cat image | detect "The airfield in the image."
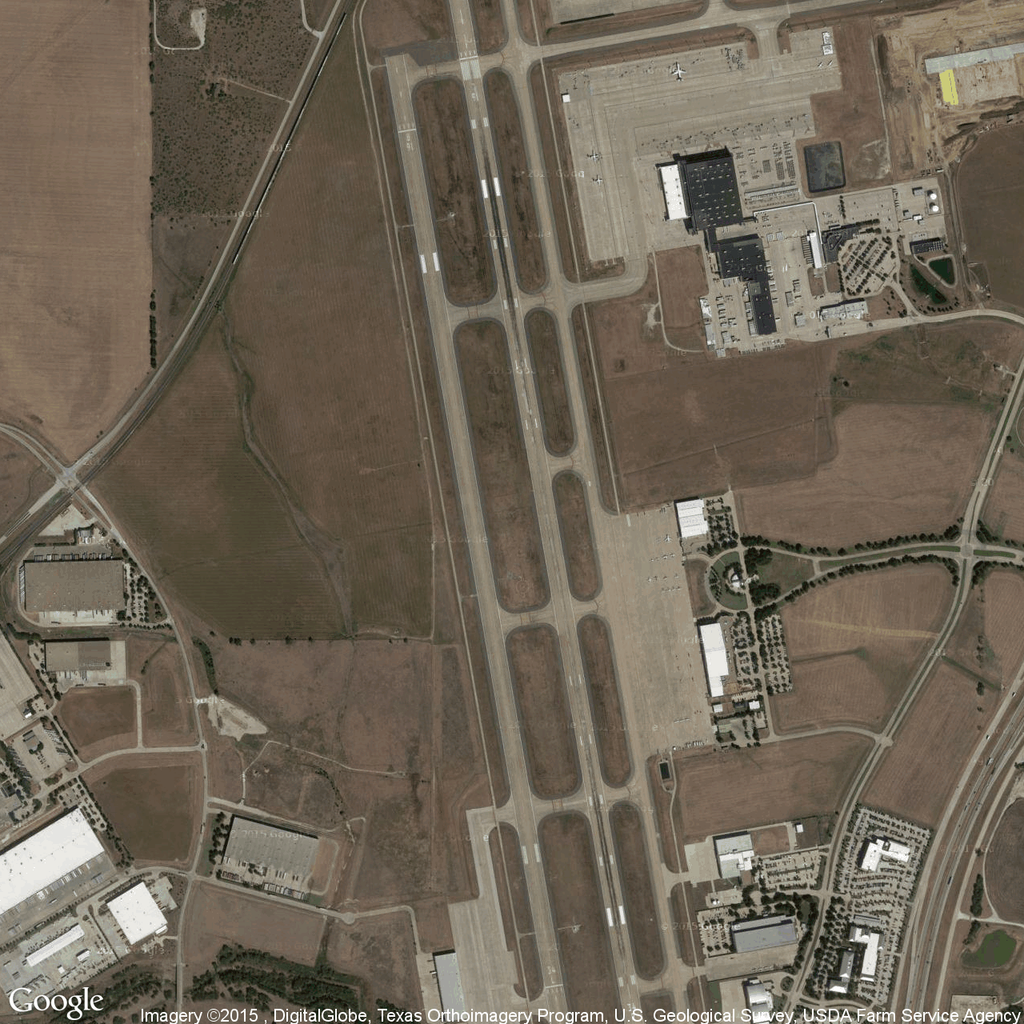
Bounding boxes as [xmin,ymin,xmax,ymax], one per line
[379,0,946,1024]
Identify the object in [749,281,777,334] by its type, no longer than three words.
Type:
building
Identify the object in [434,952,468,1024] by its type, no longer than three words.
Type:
hangar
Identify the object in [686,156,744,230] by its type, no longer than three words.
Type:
hangar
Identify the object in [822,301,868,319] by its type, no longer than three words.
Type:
shed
